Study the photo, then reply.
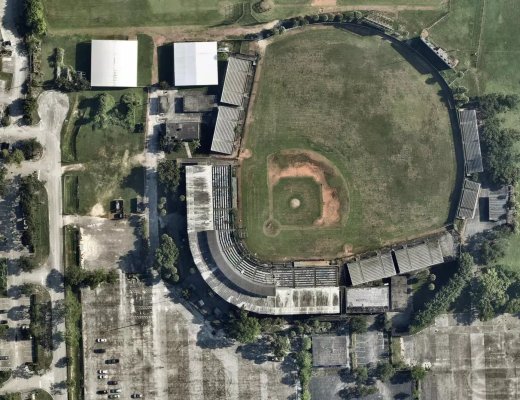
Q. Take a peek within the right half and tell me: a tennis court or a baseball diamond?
baseball diamond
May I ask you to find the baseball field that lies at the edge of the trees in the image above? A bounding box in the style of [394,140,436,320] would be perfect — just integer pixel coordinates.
[237,25,461,264]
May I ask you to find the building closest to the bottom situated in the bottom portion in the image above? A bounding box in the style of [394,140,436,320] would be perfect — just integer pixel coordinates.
[312,335,348,366]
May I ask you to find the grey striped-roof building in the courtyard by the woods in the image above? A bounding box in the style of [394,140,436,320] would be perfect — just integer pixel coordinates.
[488,193,508,221]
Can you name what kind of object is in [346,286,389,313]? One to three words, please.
building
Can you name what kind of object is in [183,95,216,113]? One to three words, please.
building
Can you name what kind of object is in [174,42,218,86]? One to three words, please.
shed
